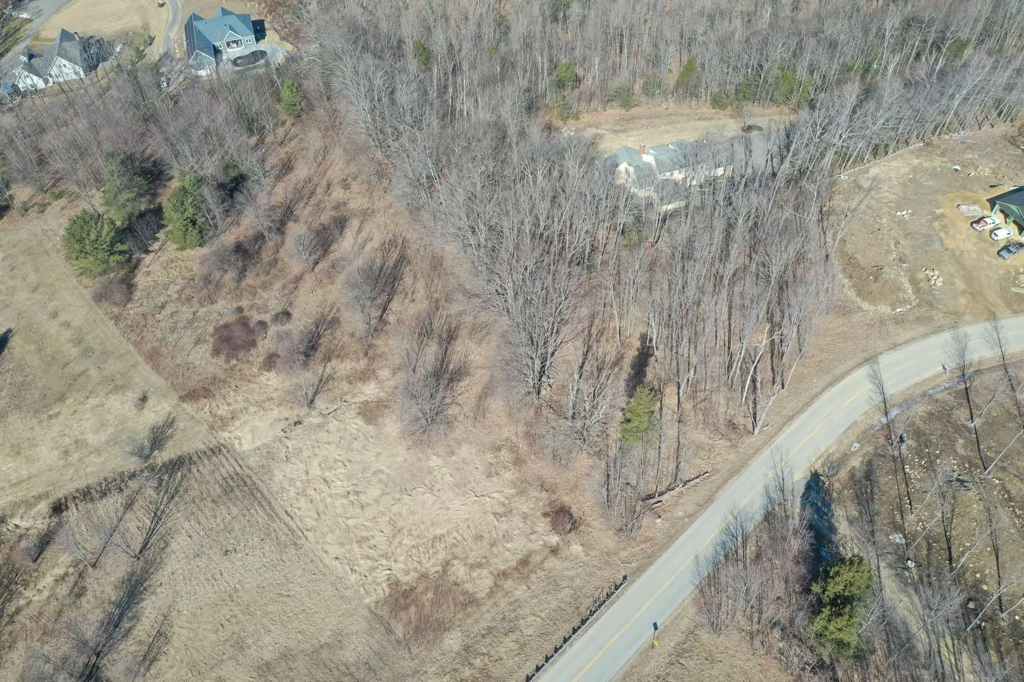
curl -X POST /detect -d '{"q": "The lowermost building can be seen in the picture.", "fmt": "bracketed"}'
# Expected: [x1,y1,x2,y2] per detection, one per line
[992,190,1024,237]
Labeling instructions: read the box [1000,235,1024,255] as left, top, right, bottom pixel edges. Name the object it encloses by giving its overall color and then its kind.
gray vehicle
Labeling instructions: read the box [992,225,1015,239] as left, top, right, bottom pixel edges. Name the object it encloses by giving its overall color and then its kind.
white car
